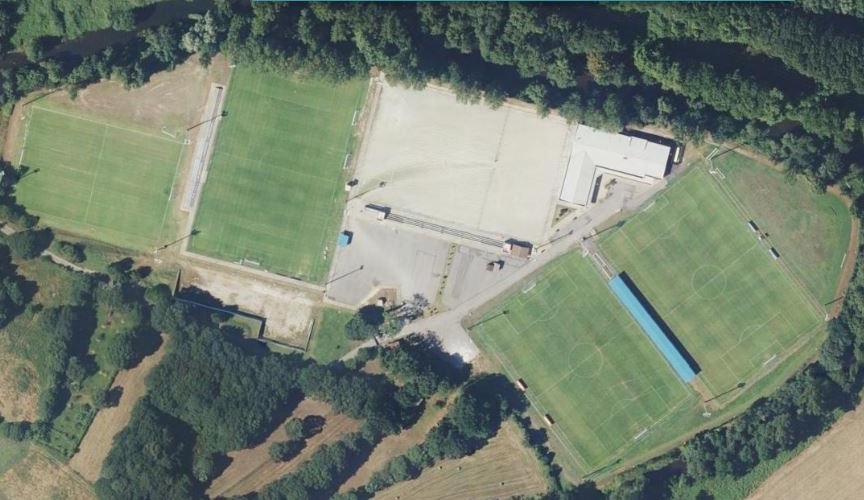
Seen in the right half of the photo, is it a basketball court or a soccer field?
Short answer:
soccer field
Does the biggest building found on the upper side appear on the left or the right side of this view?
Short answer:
right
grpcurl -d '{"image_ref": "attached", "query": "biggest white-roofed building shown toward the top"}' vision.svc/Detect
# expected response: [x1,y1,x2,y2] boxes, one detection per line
[559,123,671,206]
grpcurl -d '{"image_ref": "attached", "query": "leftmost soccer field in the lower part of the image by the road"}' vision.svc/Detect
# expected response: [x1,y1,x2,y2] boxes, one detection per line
[474,247,697,474]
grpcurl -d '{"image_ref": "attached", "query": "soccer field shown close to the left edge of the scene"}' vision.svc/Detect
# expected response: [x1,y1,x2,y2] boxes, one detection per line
[5,101,191,249]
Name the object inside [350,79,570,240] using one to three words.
sports field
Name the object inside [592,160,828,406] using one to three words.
soccer field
